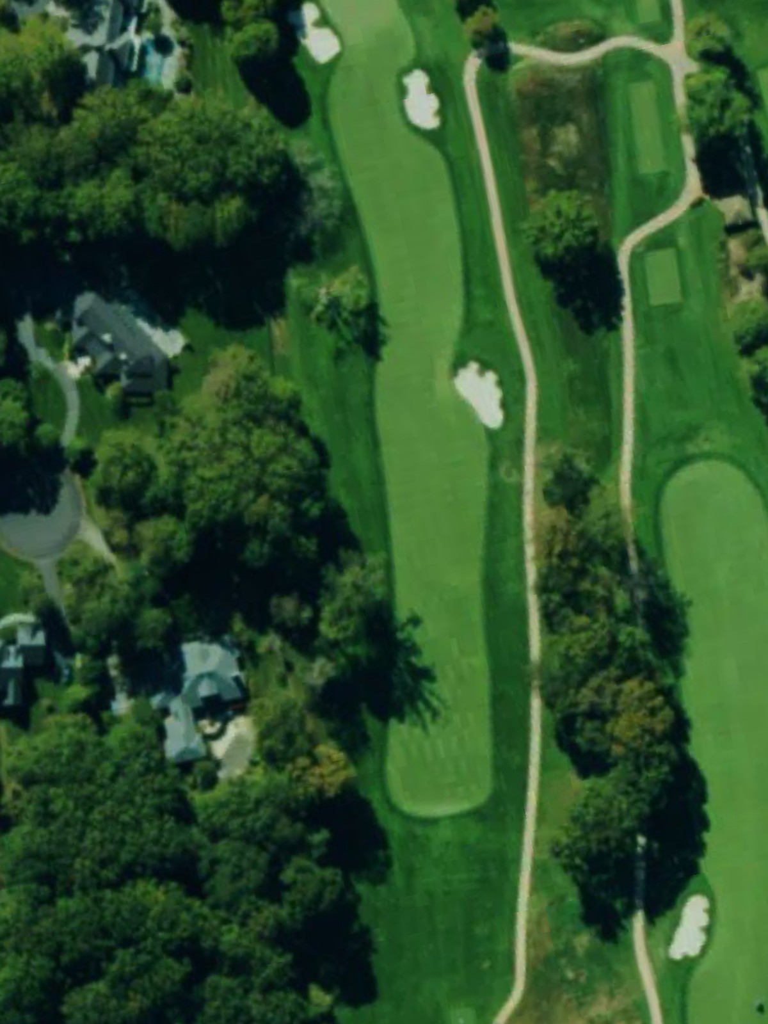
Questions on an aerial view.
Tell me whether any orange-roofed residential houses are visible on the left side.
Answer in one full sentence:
No, I can find no orange-roofed residential house on the left side.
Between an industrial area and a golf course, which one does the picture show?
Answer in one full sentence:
This image shows a golf course.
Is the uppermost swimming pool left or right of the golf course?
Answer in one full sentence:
Looking at the picture, you'll find the uppermost swimming pool to the left of the golf course.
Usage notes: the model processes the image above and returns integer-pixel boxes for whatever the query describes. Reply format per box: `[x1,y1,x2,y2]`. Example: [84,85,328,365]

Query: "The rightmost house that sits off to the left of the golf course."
[146,644,241,761]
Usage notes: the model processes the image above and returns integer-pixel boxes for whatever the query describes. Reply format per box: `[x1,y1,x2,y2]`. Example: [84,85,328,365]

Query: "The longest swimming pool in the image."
[142,35,164,81]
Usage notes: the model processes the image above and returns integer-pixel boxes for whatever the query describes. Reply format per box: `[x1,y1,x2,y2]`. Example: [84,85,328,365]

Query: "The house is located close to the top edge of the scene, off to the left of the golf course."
[82,0,142,81]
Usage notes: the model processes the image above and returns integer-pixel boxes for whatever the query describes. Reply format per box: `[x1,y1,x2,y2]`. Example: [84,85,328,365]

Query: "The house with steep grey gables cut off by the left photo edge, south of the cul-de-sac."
[0,628,44,709]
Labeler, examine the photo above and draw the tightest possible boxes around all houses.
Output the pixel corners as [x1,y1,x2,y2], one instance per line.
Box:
[0,628,44,709]
[146,644,241,761]
[63,288,167,393]
[82,0,142,81]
